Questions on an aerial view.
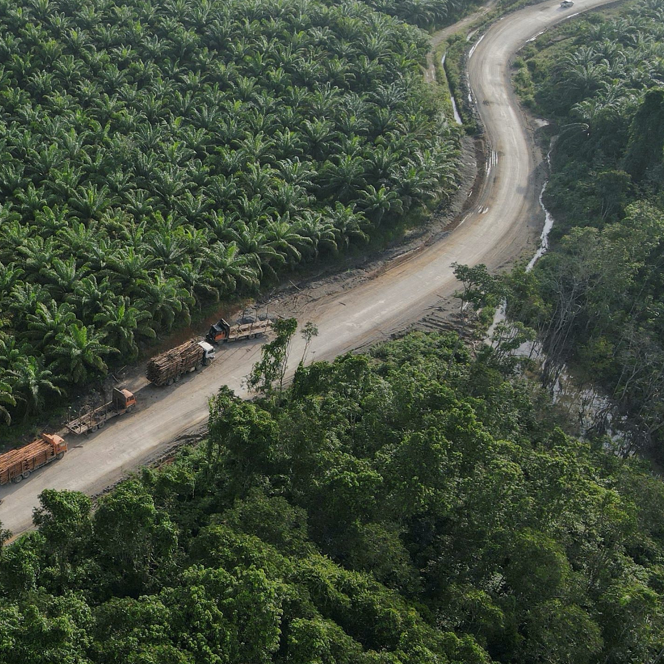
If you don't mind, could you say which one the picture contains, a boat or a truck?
truck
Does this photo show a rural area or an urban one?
rural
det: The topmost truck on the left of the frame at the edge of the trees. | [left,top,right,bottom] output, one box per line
[204,306,277,345]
